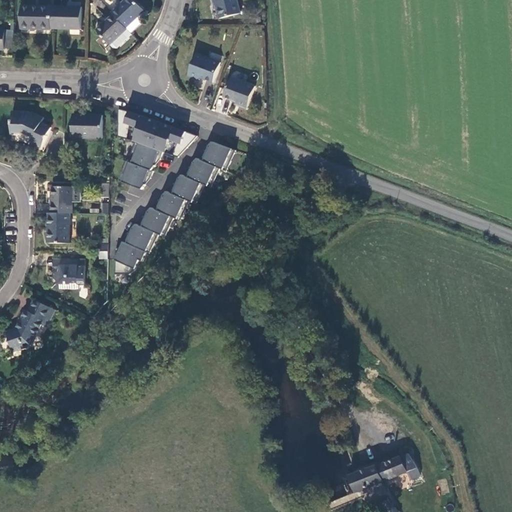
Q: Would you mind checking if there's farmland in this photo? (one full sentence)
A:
Yes, there is farmland in the image.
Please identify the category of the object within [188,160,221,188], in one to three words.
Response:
house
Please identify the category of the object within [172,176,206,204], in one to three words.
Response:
house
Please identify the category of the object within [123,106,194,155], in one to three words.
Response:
building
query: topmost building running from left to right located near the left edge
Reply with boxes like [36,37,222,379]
[18,7,86,30]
